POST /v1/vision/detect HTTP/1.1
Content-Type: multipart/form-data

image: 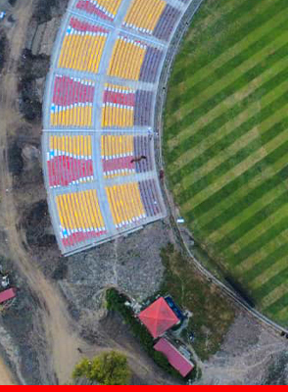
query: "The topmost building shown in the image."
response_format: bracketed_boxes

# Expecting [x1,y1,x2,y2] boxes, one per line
[139,297,180,338]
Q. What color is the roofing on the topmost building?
red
